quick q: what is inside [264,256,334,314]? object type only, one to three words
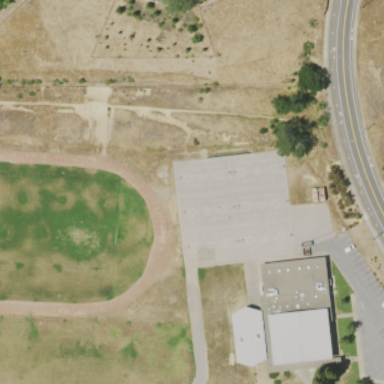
building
